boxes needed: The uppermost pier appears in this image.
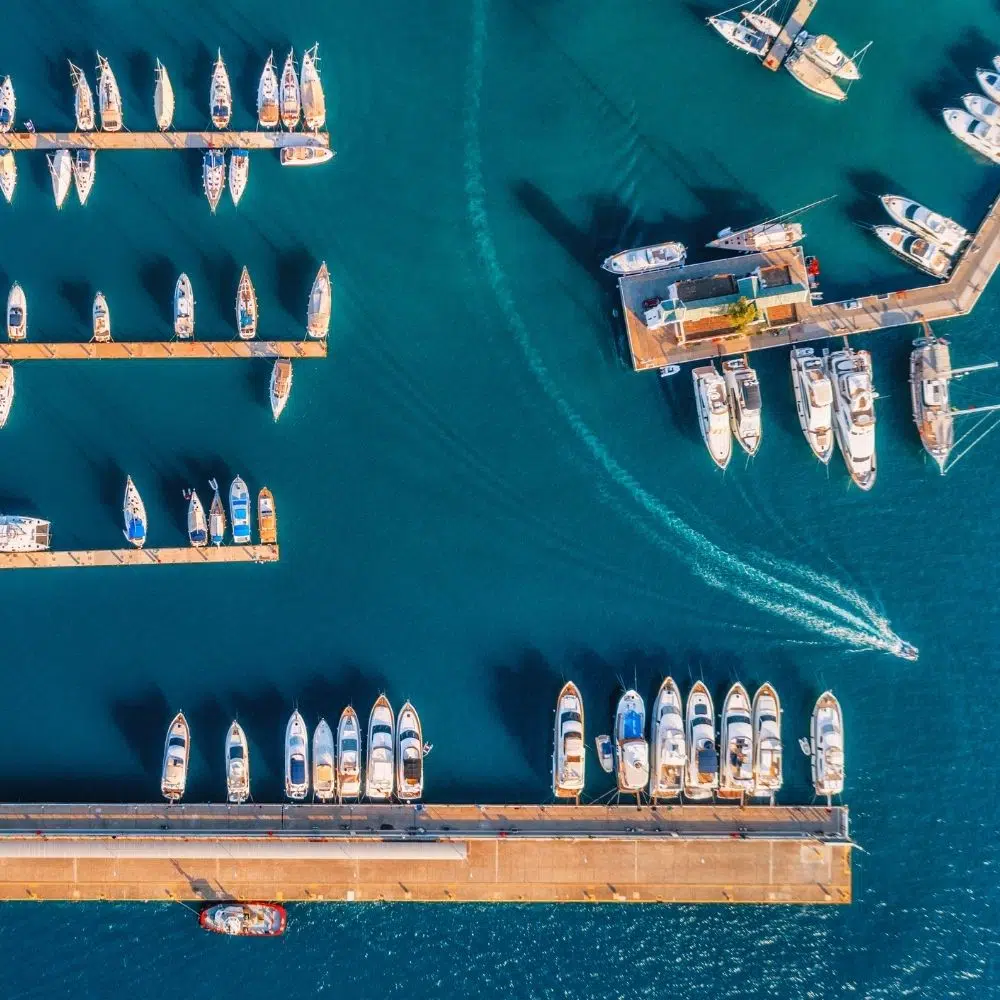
[761,0,816,72]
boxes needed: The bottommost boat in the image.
[174,898,290,938]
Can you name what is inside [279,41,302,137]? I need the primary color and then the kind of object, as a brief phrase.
white boat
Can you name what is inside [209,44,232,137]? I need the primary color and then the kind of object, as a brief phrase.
white boat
